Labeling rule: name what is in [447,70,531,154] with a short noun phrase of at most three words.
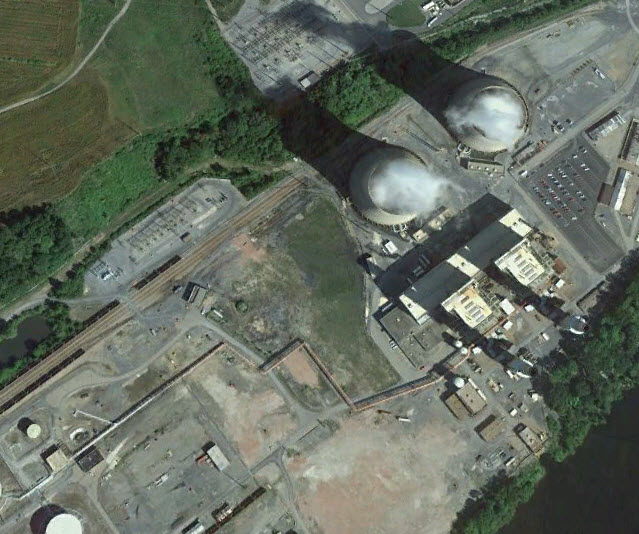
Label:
cooling tower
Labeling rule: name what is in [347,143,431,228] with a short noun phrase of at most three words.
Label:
cooling tower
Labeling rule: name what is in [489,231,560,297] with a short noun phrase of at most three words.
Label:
building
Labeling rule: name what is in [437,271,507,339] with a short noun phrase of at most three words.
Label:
building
